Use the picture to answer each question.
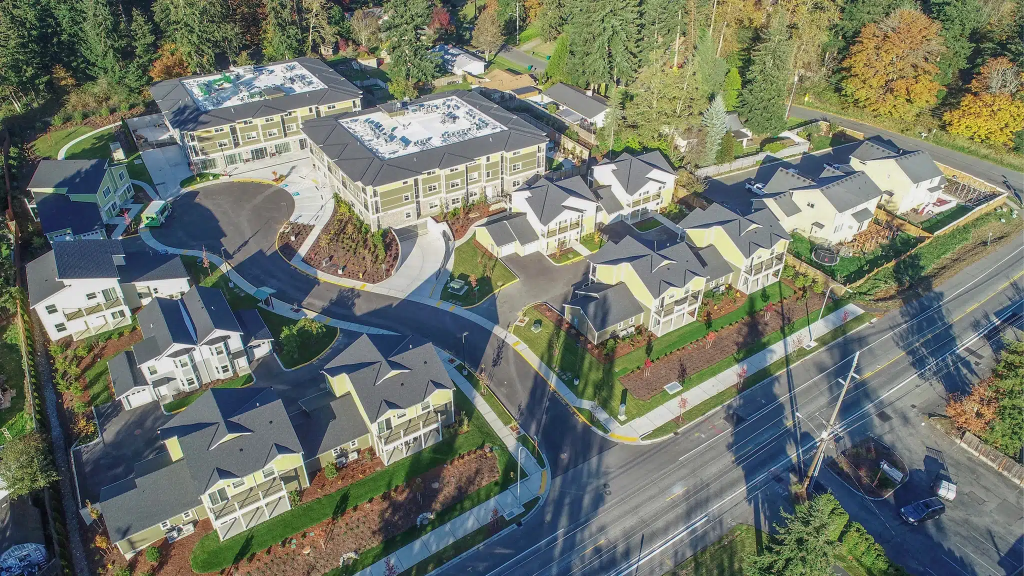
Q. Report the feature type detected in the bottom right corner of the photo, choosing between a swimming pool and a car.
car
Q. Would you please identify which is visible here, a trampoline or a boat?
trampoline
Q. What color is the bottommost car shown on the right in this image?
blue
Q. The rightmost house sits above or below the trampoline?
above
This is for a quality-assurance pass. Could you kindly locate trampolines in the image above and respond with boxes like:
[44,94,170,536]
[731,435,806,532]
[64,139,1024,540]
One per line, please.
[811,237,845,266]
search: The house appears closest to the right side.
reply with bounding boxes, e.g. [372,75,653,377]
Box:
[831,143,944,211]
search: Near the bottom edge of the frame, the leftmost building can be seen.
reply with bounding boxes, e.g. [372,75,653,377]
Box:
[95,384,311,558]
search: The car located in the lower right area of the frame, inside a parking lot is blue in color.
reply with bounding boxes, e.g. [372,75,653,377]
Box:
[901,495,957,525]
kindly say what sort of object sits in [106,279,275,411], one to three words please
house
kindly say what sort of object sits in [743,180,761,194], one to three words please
vehicle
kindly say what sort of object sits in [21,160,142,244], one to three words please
building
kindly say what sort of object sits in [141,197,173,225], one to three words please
vehicle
